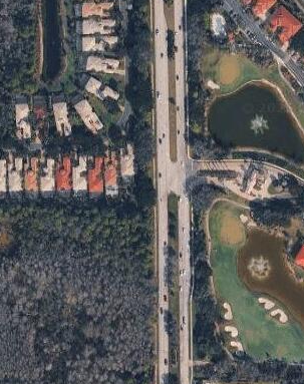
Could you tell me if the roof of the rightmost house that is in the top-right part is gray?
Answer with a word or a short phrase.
No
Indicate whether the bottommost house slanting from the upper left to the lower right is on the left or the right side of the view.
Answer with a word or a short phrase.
left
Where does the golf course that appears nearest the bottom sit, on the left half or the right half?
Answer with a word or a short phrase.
right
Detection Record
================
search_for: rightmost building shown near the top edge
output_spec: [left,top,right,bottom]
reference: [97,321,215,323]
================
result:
[267,5,304,44]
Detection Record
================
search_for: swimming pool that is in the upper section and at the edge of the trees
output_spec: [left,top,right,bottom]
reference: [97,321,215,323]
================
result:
[211,15,225,37]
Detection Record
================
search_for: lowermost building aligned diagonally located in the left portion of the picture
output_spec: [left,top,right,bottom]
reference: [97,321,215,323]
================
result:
[70,92,104,135]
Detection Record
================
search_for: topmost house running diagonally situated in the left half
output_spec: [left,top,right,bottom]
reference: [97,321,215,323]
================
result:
[77,70,119,106]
